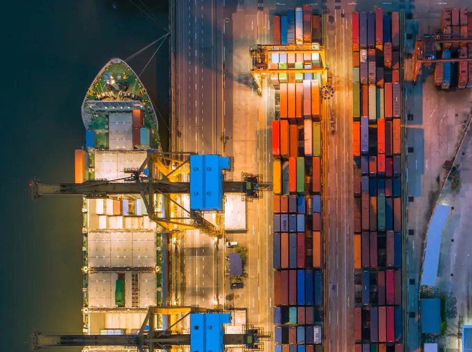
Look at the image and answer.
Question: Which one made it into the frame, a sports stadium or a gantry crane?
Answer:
gantry crane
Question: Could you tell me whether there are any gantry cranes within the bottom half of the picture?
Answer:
Yes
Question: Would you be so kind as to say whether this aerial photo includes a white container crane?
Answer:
No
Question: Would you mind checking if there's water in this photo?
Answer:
Yes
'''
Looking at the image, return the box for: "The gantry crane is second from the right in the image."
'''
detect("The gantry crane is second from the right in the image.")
[251,31,329,100]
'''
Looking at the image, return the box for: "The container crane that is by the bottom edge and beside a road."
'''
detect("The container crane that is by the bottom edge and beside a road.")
[29,294,270,352]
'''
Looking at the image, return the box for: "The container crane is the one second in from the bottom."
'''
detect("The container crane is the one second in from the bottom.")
[29,149,270,243]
